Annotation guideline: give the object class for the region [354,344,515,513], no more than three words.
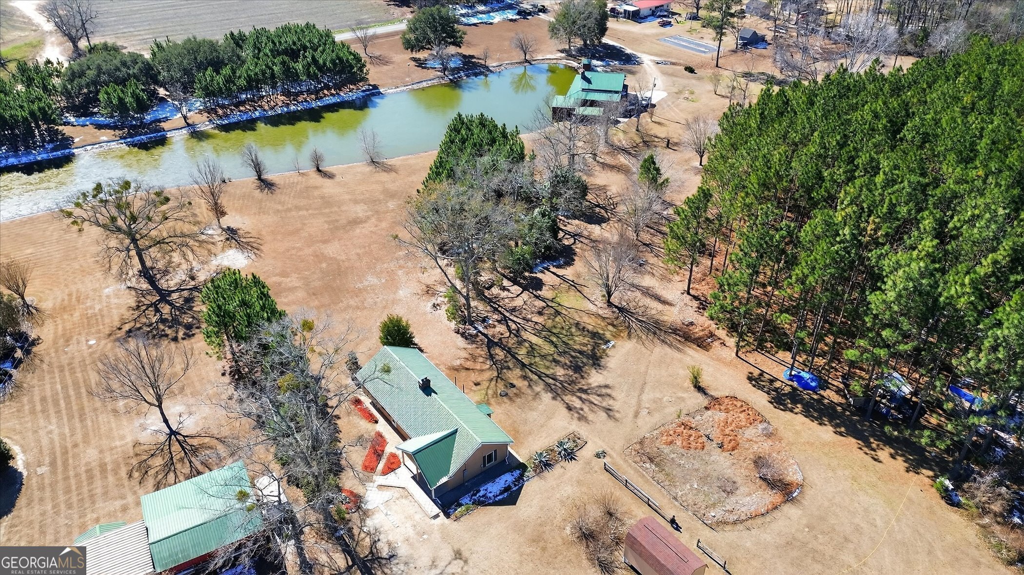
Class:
house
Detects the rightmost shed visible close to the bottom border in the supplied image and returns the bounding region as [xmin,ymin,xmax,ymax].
[625,518,712,575]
